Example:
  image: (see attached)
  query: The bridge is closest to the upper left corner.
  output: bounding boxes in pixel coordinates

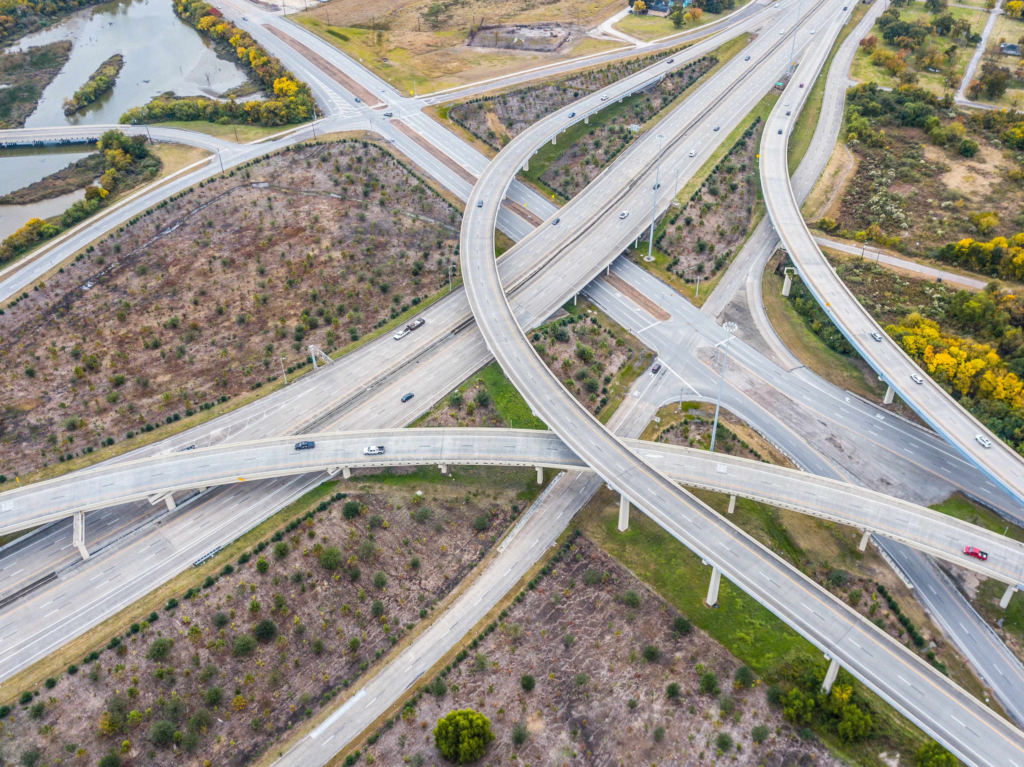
[0,124,136,147]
